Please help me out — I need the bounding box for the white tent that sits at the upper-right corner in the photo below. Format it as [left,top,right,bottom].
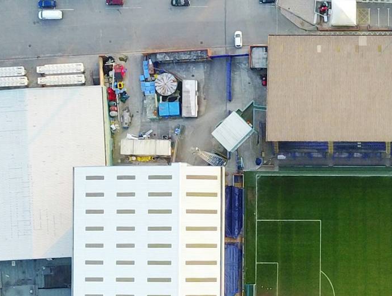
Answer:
[331,0,357,28]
